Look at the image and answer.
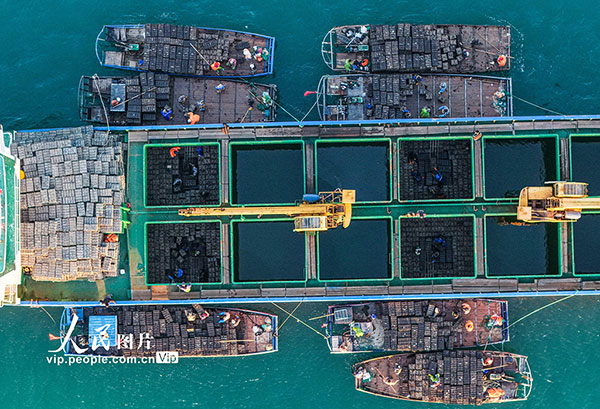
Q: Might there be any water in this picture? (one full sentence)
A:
Yes, some water is visible.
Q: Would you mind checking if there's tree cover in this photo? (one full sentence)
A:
No, the scene doesn't show any tree cover.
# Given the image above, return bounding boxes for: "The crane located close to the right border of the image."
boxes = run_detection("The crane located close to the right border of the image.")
[516,180,600,224]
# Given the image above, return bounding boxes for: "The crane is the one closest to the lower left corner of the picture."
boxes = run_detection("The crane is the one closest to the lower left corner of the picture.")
[178,189,357,231]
